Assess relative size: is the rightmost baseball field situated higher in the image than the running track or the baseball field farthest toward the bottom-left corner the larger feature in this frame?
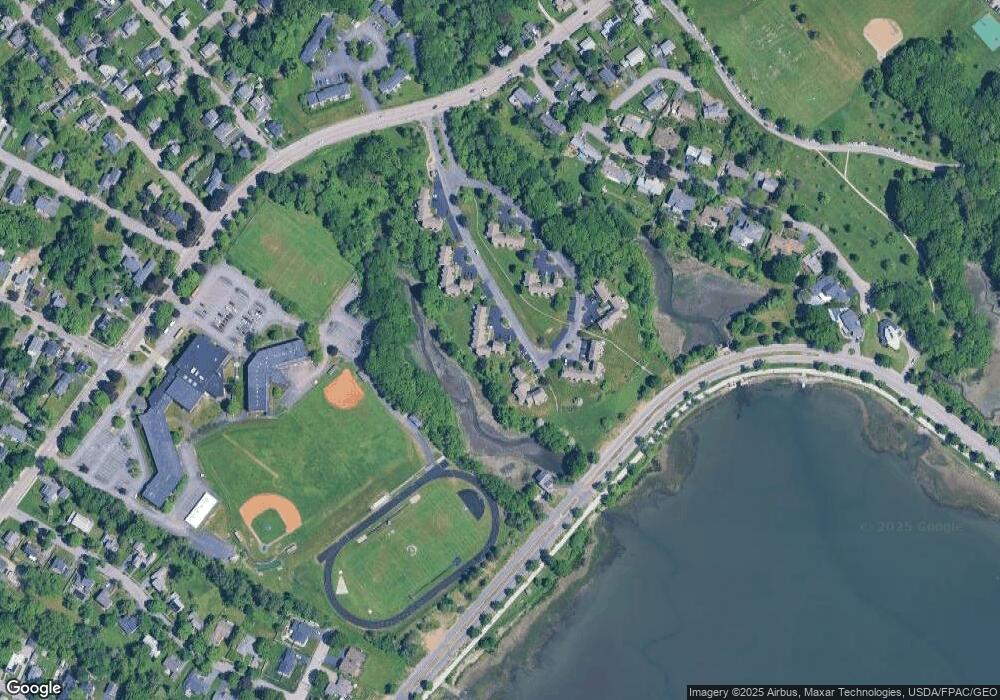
the baseball field farthest toward the bottom-left corner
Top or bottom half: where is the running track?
bottom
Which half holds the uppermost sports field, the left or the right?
left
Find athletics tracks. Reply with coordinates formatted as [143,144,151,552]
[316,461,500,631]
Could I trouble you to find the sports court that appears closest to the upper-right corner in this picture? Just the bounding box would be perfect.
[972,13,1000,52]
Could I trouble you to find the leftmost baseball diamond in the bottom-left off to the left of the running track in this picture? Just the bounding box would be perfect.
[240,494,302,561]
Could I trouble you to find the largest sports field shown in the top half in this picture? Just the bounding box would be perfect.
[229,203,353,321]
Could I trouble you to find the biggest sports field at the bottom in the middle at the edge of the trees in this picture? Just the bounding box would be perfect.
[332,477,492,622]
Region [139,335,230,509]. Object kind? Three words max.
building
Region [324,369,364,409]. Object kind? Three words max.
baseball field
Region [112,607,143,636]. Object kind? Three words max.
house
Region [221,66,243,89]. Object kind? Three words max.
house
